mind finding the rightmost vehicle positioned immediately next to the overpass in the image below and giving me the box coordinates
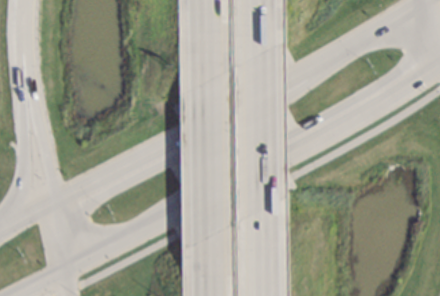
[300,116,322,130]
